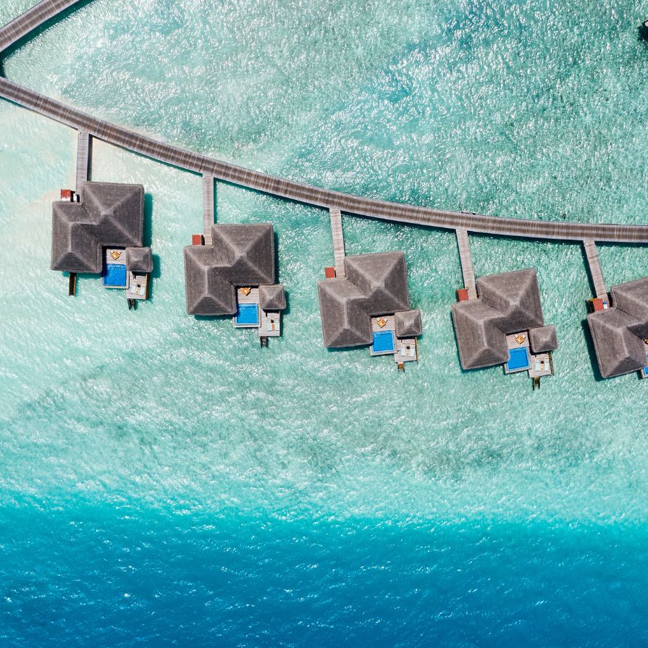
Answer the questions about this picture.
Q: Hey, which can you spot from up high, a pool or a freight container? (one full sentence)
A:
The one in the frame is a pool.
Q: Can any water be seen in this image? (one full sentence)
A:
Yes, there's water in this view.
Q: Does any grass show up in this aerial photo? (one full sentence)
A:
No, the picture contains no grass.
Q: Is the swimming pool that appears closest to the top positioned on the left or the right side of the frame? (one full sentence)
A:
The swimming pool that appears closest to the top sits on the left side.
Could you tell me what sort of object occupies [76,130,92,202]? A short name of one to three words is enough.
pier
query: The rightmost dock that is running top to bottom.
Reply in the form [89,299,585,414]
[582,240,610,310]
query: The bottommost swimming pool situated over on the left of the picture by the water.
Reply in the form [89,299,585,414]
[235,301,261,327]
